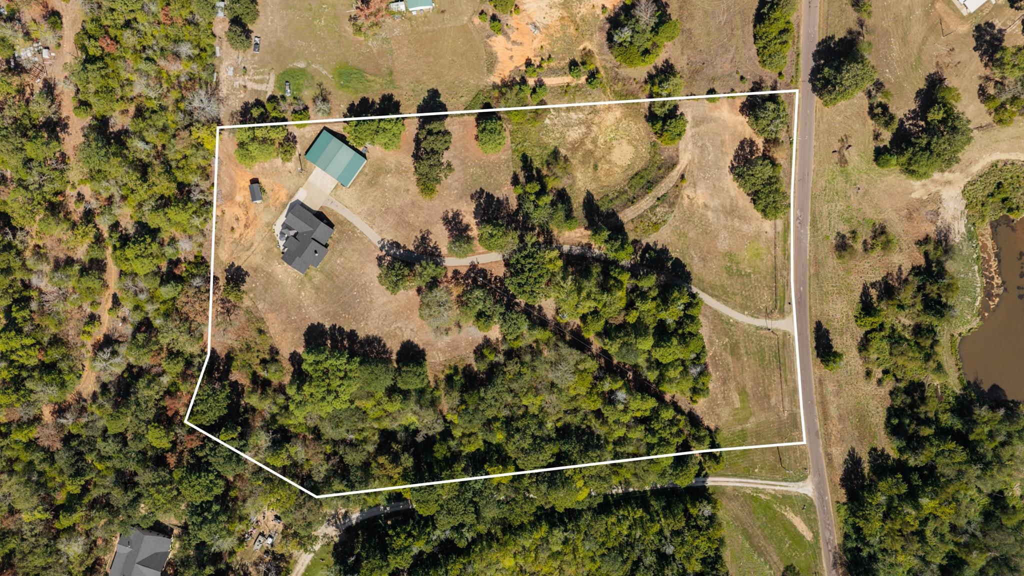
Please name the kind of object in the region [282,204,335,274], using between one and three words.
house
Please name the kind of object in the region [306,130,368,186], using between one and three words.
barn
